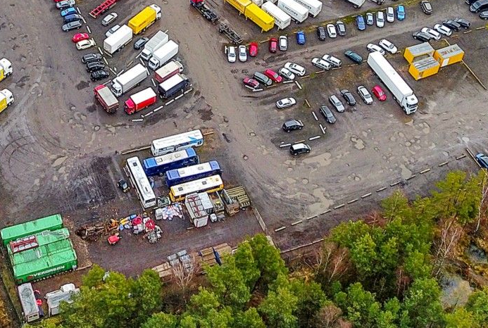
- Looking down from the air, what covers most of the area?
paved ground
